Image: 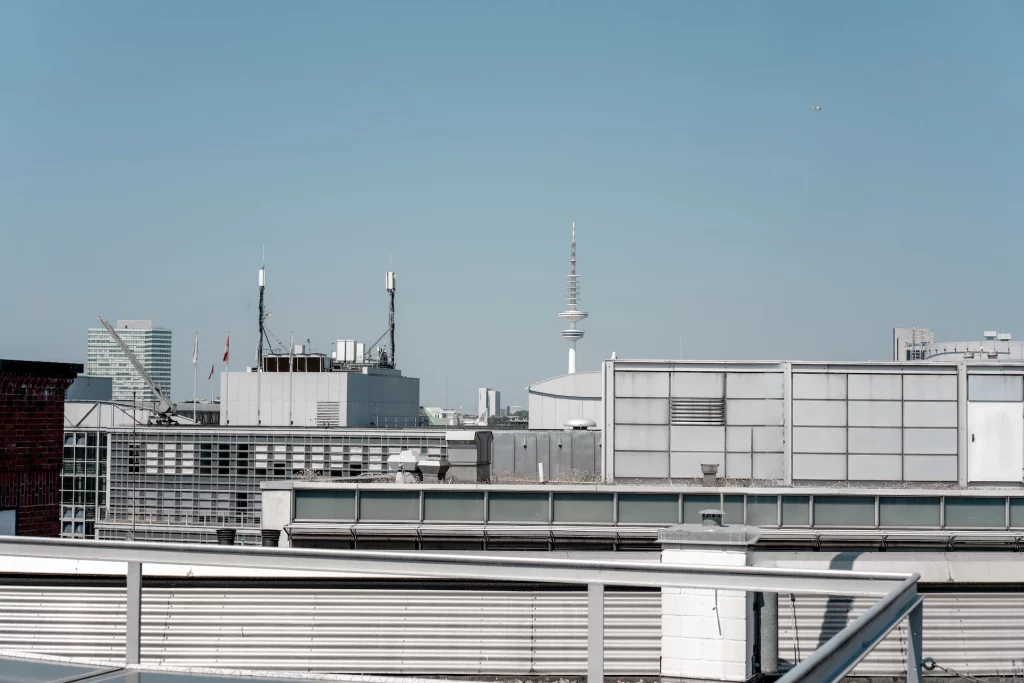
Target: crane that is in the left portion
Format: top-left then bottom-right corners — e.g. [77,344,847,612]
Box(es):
[97,318,179,427]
